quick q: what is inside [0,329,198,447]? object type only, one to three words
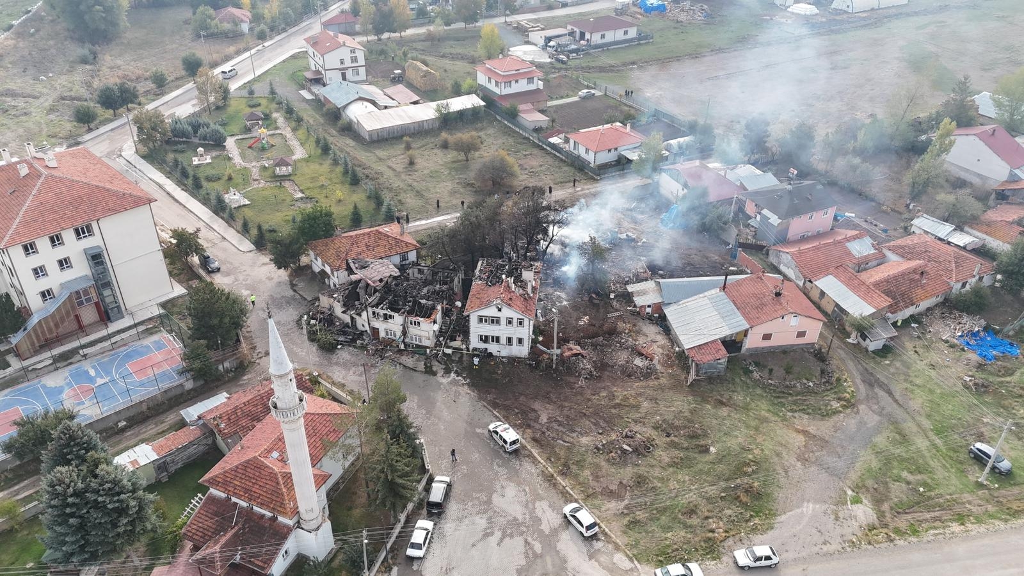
sports court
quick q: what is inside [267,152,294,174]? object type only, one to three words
gazebo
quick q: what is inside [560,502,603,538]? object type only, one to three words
car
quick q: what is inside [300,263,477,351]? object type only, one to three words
house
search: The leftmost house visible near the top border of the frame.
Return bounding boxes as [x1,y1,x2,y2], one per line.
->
[216,8,260,32]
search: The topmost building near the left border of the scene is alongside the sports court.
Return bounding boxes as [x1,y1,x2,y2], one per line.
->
[0,139,174,359]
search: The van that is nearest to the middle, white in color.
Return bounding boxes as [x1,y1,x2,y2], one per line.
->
[484,417,525,452]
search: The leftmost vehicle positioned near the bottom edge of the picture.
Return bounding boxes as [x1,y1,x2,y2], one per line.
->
[404,516,434,561]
